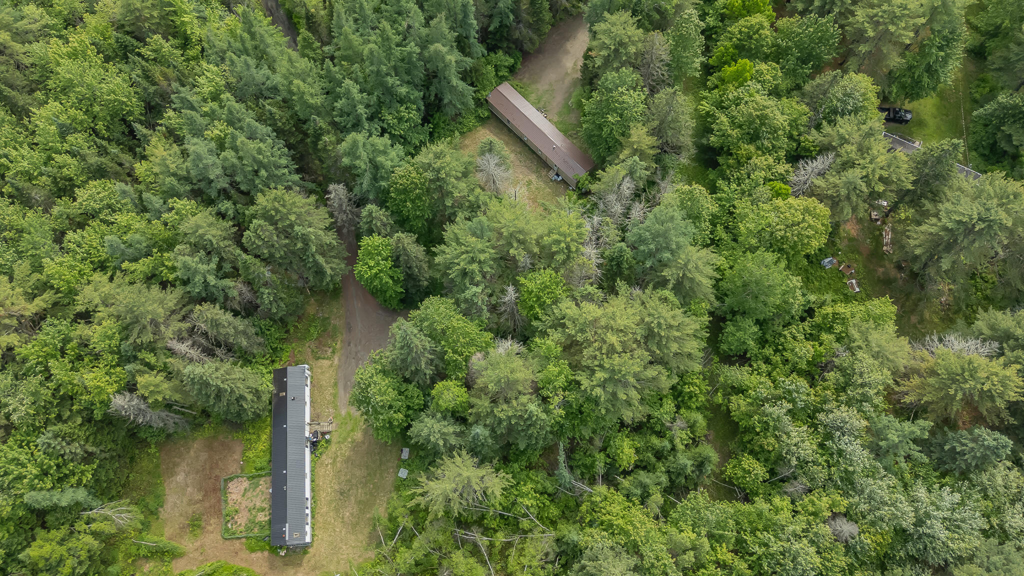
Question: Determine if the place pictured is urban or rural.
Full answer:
It looks rural.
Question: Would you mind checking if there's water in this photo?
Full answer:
No, the scene doesn't show any water.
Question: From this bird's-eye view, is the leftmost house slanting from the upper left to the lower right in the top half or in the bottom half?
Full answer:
It is in the top half that the leftmost house slanting from the upper left to the lower right appears.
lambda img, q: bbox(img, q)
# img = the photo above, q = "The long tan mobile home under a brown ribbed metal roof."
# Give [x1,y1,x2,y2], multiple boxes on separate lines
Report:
[486,82,597,189]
